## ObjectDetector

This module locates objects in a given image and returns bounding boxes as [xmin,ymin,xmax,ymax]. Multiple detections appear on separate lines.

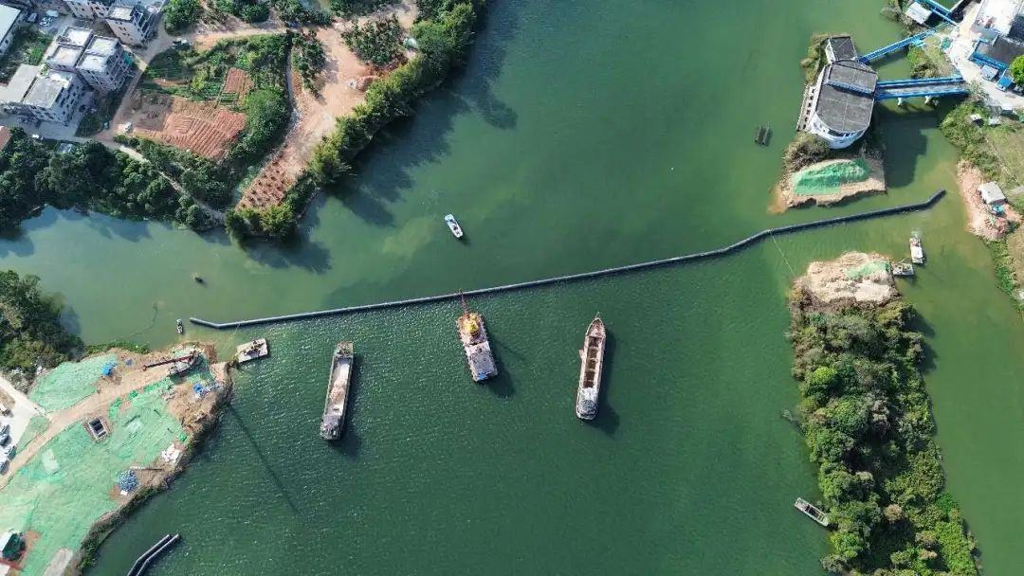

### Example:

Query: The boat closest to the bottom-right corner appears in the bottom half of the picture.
[794,498,826,528]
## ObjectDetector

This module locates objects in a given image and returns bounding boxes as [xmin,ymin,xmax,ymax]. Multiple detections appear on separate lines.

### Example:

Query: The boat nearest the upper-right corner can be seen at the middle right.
[910,237,926,264]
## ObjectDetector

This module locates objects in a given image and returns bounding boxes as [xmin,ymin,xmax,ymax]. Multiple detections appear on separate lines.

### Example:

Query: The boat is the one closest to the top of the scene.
[446,214,463,238]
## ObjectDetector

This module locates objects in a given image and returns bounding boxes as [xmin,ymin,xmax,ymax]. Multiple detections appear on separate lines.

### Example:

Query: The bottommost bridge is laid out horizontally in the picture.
[874,77,968,109]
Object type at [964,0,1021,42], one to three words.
building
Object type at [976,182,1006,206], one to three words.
shed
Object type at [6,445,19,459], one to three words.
vehicle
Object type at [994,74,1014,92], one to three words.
vehicle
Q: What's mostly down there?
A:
water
